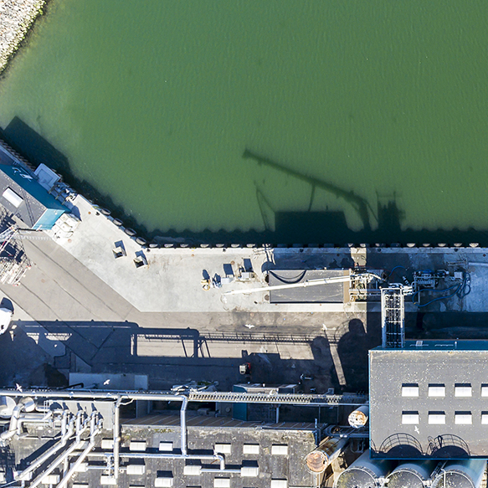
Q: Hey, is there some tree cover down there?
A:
No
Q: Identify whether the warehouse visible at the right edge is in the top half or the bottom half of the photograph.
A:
bottom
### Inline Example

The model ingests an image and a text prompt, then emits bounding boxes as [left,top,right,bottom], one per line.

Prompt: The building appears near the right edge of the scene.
[369,339,488,459]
